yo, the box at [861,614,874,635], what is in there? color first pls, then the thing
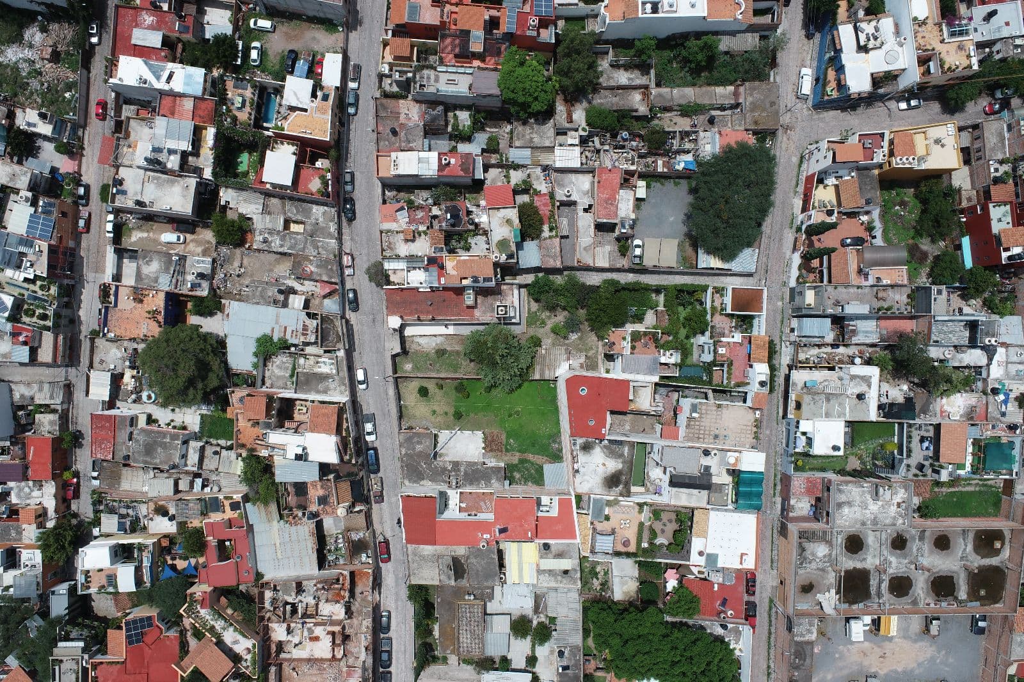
white vehicle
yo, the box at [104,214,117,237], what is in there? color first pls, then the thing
white vehicle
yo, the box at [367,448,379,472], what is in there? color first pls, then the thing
blue vehicle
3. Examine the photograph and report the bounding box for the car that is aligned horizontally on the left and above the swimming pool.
[250,18,276,32]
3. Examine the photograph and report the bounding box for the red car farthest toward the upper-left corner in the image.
[94,99,108,121]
